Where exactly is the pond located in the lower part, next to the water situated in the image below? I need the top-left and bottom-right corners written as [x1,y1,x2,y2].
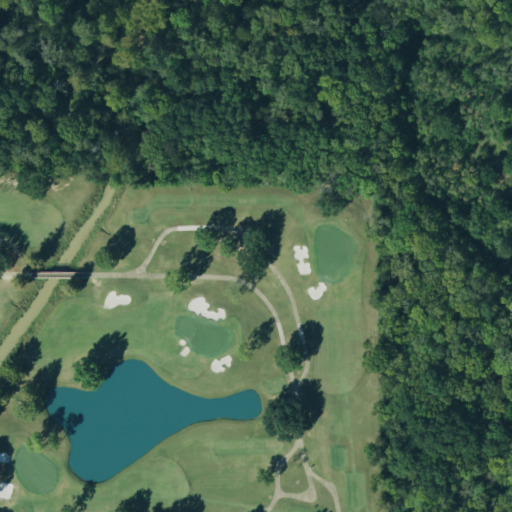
[48,358,262,482]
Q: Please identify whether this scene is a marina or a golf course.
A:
golf course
